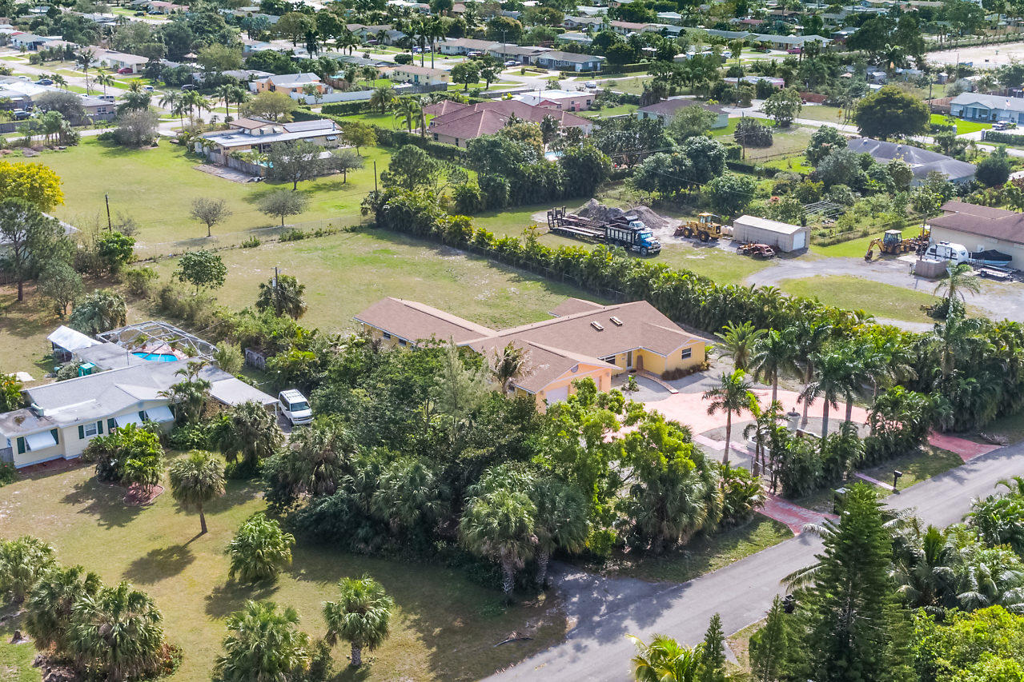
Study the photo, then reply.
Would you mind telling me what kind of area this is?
residential area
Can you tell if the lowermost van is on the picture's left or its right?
left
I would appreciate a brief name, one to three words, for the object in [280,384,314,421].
van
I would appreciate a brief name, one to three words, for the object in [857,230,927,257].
work vehicle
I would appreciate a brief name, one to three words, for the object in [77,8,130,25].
house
